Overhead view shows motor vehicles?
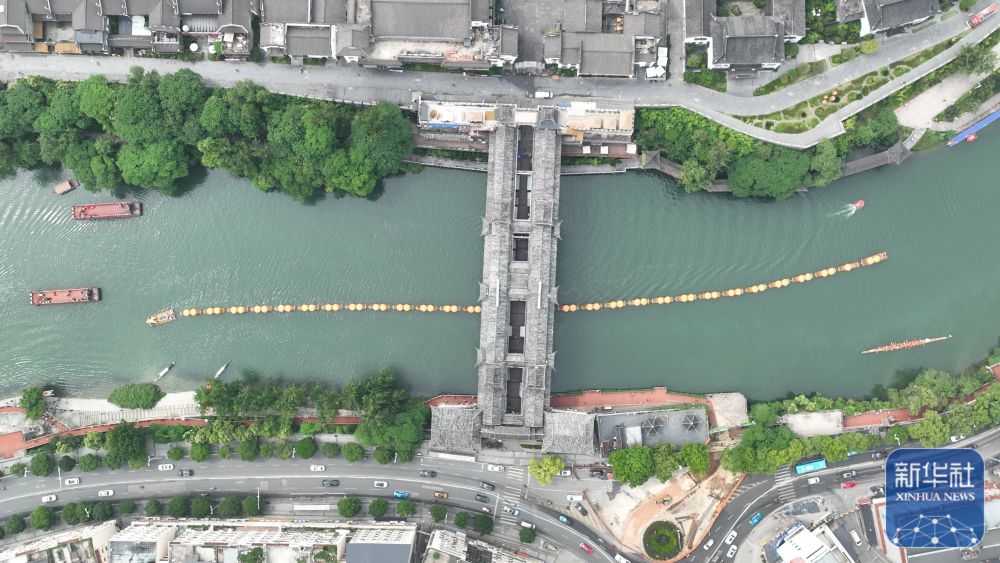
Yes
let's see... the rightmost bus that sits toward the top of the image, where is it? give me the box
[964,4,995,29]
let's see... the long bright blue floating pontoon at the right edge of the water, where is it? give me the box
[949,109,1000,146]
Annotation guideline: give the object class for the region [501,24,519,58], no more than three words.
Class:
house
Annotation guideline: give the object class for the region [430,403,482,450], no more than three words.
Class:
building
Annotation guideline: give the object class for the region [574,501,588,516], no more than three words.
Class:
vehicle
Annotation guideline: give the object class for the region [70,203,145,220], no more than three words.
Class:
ship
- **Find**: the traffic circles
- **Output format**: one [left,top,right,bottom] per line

[638,516,685,562]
